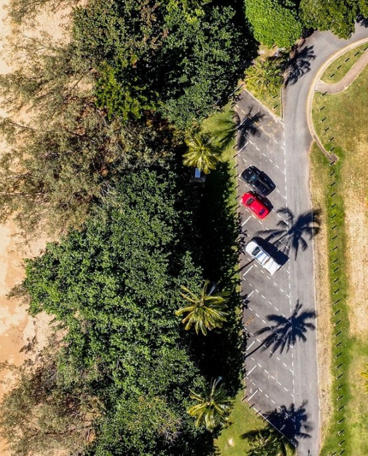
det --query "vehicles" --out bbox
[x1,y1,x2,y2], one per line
[245,239,284,277]
[239,191,271,220]
[241,164,275,198]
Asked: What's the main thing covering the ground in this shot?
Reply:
trees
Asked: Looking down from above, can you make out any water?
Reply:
No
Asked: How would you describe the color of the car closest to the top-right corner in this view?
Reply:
black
